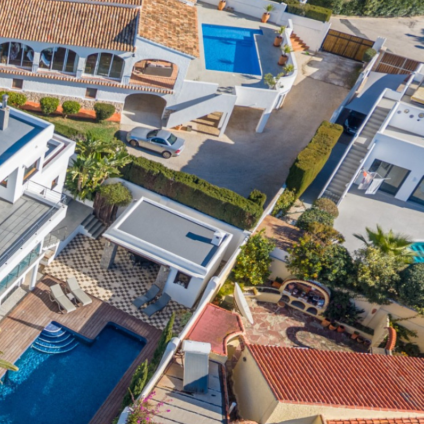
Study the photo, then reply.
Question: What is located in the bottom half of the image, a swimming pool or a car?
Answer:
swimming pool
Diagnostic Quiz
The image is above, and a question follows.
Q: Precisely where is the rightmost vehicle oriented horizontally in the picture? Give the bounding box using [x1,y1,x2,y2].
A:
[129,132,185,159]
